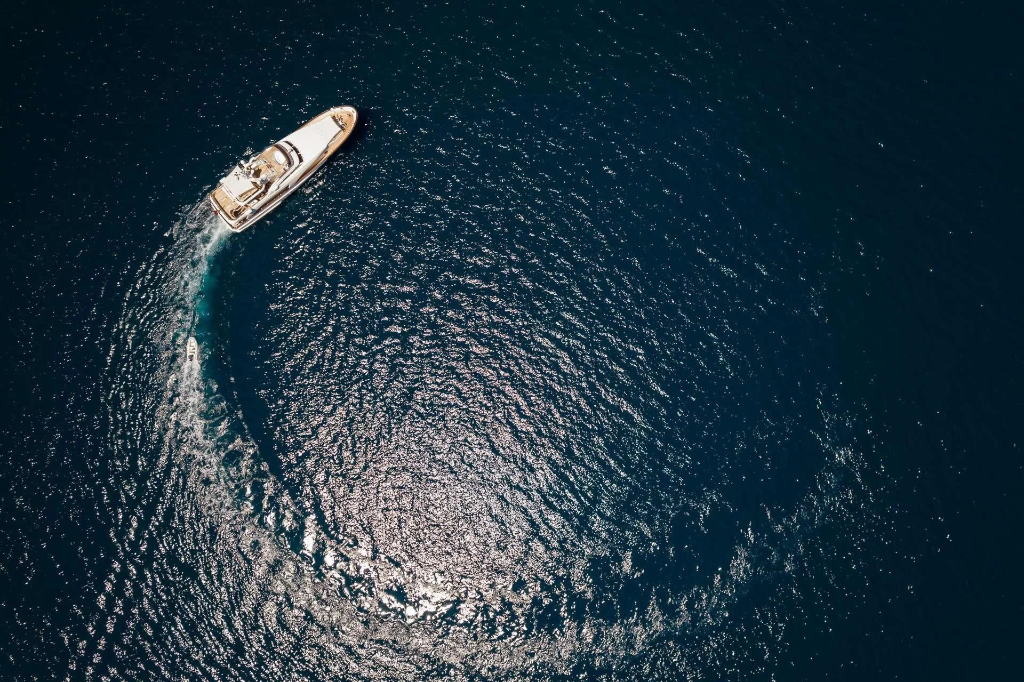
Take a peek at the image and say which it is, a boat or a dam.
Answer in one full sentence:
This aerial view contains a boat.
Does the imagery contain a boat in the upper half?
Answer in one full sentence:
Yes, you'll find a boat in the upper half.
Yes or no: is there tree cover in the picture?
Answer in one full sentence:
No, there's no tree cover in this view.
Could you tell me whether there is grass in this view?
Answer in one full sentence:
No, the picture contains no grass.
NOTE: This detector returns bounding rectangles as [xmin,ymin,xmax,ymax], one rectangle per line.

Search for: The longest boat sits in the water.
[209,105,358,234]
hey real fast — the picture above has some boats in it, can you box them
[209,105,358,234]
[187,336,197,363]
